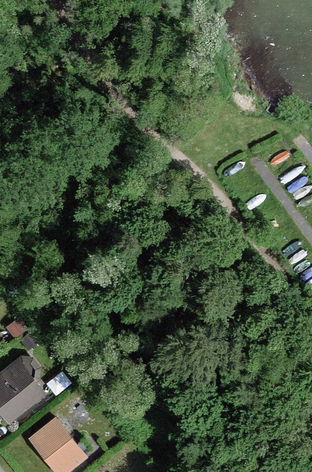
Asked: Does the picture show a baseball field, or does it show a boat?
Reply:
boat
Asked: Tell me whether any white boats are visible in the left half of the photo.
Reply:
No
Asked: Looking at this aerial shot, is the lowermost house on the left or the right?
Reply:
left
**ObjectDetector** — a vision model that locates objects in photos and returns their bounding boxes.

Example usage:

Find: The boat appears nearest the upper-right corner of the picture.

[270,152,290,165]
